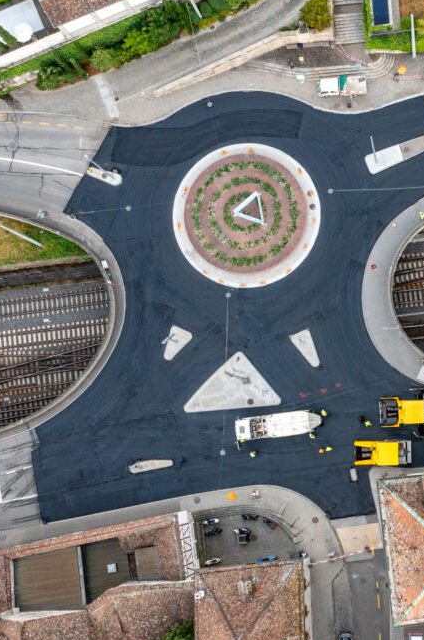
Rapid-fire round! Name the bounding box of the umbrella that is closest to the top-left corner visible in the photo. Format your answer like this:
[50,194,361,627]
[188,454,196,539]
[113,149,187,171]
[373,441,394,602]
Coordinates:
[13,23,35,43]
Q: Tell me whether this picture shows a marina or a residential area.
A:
residential area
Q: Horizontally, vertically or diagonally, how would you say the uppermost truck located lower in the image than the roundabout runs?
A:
horizontally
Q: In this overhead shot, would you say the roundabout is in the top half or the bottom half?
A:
top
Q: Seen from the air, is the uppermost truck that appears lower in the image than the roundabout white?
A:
Yes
